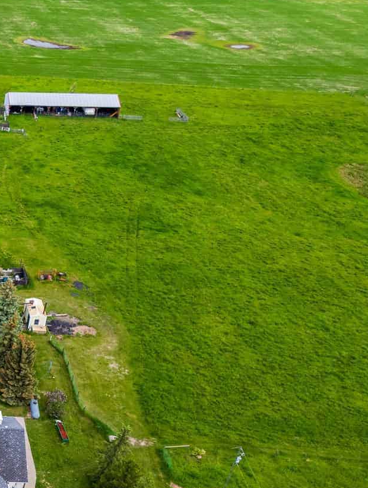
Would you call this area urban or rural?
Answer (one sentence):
The area shown here is rural.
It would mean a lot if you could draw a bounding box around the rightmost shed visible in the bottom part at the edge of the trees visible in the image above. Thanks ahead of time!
[25,298,50,336]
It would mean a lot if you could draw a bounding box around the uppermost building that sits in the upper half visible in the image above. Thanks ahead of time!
[6,93,123,119]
